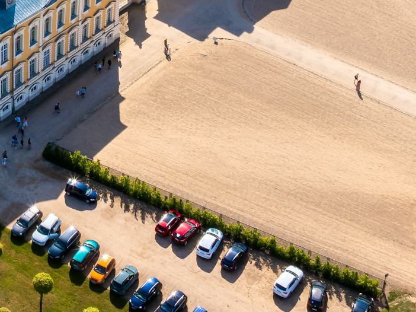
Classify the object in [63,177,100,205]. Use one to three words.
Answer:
car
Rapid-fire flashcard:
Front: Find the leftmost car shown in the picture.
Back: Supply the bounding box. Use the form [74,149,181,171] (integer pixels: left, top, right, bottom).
[11,205,43,238]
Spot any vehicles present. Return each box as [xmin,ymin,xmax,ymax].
[158,293,190,312]
[63,177,100,205]
[306,284,327,312]
[110,268,140,299]
[191,300,211,312]
[11,205,43,238]
[70,243,100,272]
[171,222,200,249]
[32,216,60,249]
[270,269,303,303]
[194,231,224,262]
[49,230,81,262]
[152,211,181,241]
[220,246,248,275]
[88,256,119,287]
[129,279,165,312]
